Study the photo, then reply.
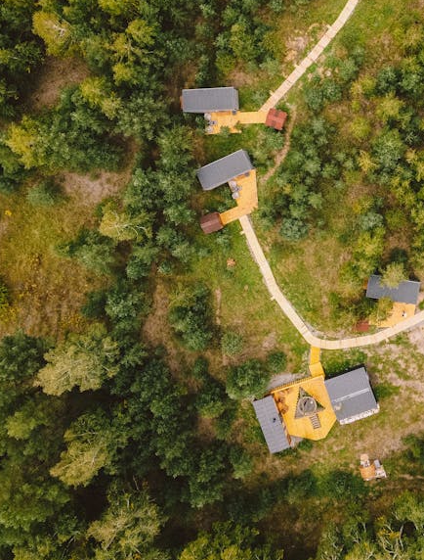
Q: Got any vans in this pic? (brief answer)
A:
No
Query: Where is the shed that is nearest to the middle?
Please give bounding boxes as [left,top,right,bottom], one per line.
[201,212,225,234]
